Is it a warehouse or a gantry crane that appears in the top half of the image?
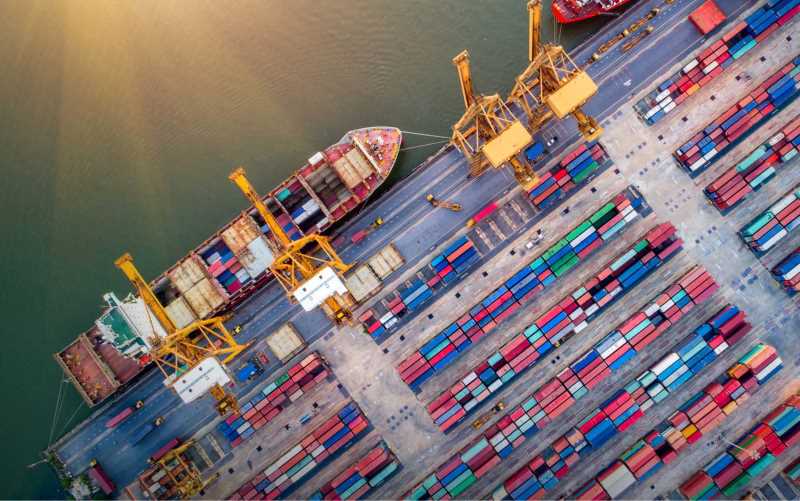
gantry crane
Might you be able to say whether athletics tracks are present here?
No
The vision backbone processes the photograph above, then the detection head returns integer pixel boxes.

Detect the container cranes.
[130,439,222,501]
[107,255,261,421]
[224,167,359,332]
[442,45,541,191]
[498,0,605,142]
